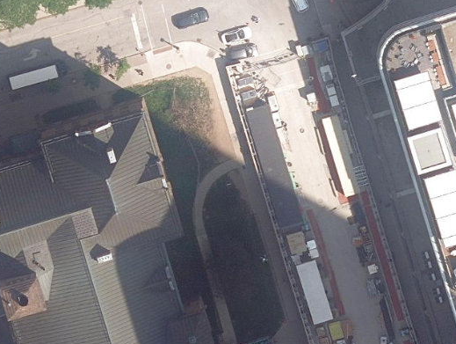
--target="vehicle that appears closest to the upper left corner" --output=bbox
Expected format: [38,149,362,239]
[8,65,62,93]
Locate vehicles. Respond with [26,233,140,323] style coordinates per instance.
[8,65,62,93]
[225,44,258,61]
[173,8,209,28]
[219,27,252,45]
[292,0,309,12]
